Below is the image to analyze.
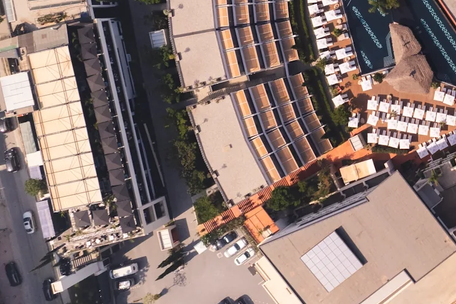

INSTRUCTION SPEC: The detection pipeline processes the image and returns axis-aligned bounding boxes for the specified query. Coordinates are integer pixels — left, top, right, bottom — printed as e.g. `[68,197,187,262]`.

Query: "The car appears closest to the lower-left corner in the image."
[3,261,22,288]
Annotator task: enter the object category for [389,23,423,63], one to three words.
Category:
shed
